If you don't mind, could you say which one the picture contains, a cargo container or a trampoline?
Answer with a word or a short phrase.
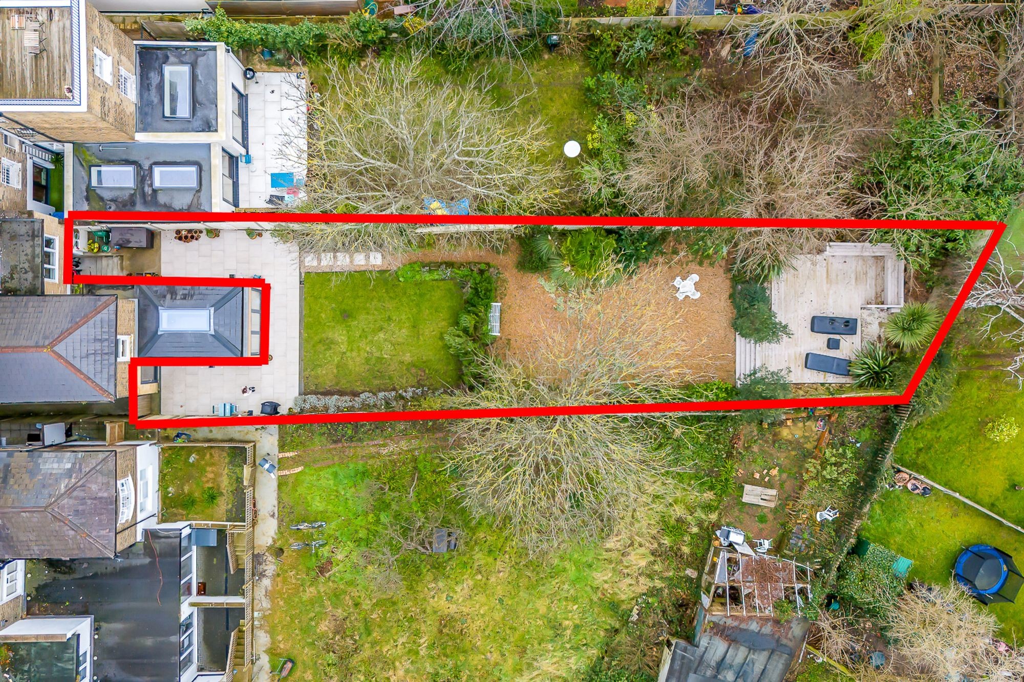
trampoline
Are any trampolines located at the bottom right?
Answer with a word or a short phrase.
Yes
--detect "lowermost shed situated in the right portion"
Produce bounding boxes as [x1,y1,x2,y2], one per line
[660,610,814,682]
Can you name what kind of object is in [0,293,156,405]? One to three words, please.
house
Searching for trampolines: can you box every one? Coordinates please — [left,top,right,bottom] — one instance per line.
[951,542,1023,602]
